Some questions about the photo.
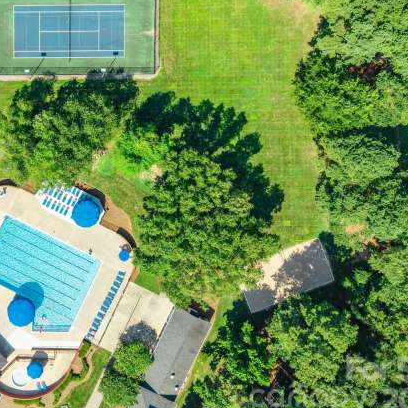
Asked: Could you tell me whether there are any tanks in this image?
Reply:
No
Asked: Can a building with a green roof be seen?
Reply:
No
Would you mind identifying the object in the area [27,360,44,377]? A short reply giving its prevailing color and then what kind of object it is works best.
blue umbrella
